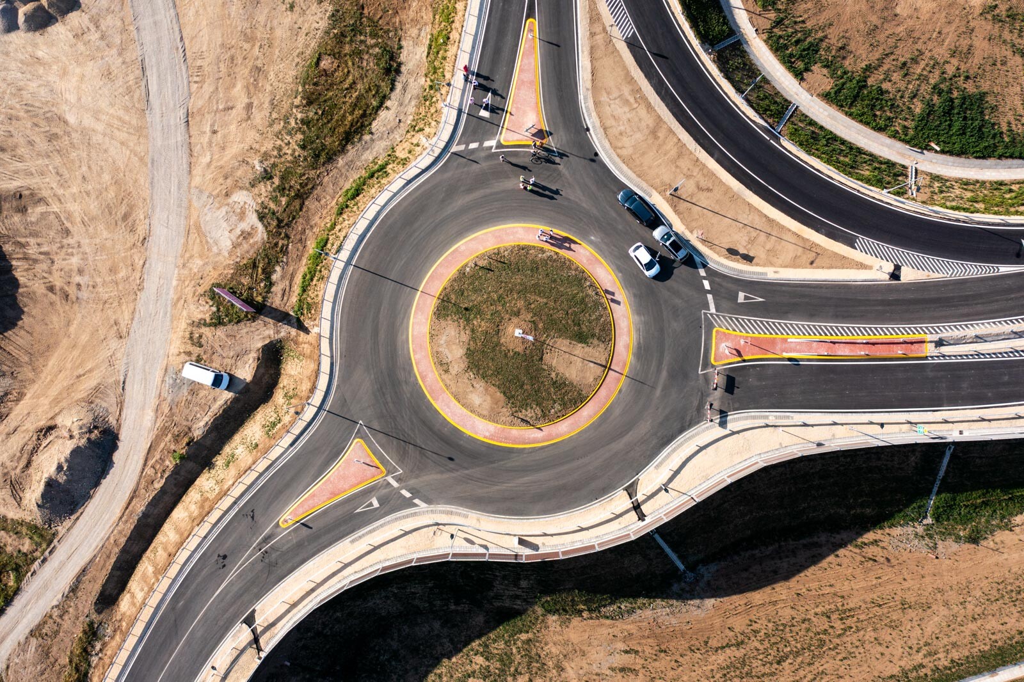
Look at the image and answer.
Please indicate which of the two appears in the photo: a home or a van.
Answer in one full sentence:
The image shows a van.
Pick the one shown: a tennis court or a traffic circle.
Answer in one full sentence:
This aerial view contains a traffic circle.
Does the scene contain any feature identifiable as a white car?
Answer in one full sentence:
Yes, the photo shows a white car.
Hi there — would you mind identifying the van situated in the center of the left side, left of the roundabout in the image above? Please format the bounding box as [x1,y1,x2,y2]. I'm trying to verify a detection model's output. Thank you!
[177,361,230,391]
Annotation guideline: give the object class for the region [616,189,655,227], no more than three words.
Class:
car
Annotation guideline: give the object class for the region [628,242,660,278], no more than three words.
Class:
car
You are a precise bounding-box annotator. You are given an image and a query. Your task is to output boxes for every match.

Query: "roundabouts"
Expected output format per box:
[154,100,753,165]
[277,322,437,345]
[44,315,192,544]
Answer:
[307,140,731,520]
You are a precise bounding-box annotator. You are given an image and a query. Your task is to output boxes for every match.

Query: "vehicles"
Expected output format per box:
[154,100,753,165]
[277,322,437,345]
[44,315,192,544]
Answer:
[616,189,655,227]
[652,227,689,264]
[177,361,230,391]
[628,242,660,278]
